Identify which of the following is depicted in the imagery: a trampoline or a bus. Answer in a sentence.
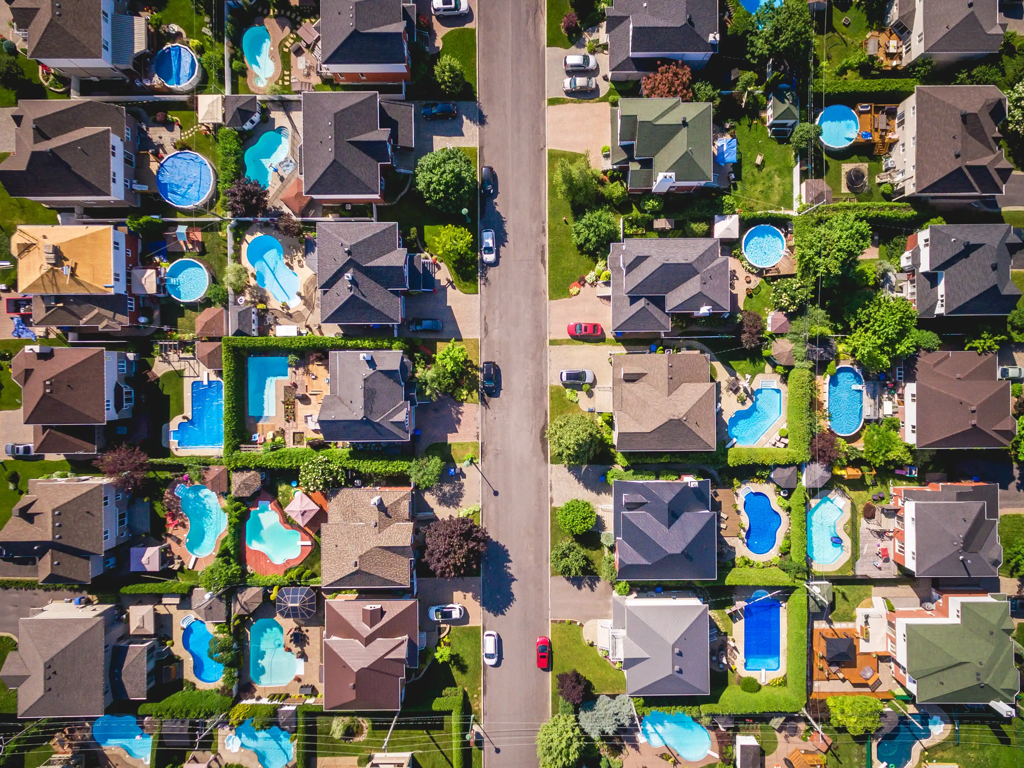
Looking from above, you can make out a trampoline.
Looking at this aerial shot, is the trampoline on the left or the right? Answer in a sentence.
It is on the right.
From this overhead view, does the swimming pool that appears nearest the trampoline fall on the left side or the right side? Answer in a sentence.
It is on the right.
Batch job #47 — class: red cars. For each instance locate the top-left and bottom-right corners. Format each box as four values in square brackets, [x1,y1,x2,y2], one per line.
[567,322,602,337]
[535,635,550,668]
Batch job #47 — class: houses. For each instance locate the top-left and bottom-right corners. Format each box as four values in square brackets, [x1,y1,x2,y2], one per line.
[321,489,418,588]
[10,225,150,331]
[892,483,1003,577]
[316,222,423,325]
[613,476,717,579]
[3,0,126,77]
[612,352,716,451]
[323,595,420,711]
[612,591,710,696]
[895,351,1018,449]
[320,0,418,83]
[0,607,158,718]
[319,351,419,442]
[0,99,148,208]
[894,85,1023,205]
[888,0,1008,72]
[610,98,713,199]
[605,0,719,81]
[885,588,1024,716]
[904,224,1024,318]
[607,238,730,332]
[372,745,413,768]
[298,91,415,206]
[0,477,128,583]
[11,346,130,454]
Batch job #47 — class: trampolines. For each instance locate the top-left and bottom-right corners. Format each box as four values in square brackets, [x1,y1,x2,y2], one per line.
[842,164,871,188]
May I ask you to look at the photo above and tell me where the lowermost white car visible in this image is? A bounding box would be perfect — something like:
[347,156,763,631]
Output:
[482,630,497,665]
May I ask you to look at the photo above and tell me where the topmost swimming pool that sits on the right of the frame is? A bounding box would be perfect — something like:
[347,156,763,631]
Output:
[719,0,782,28]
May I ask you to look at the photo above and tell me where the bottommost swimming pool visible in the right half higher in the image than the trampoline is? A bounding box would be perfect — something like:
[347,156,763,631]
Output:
[816,106,863,149]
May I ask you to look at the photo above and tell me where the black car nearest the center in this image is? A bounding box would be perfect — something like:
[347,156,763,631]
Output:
[482,360,497,391]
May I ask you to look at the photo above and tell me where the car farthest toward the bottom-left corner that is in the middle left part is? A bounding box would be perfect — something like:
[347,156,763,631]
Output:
[6,442,35,457]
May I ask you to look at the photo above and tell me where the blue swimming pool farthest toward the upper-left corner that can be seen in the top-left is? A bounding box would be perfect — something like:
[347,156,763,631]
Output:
[154,44,199,89]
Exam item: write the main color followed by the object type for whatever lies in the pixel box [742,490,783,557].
blue swimming pool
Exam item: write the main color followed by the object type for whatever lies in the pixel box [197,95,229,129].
white gazebo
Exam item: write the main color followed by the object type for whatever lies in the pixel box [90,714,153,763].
blue swimming pool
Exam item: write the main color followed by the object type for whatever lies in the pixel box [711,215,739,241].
white gazebo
